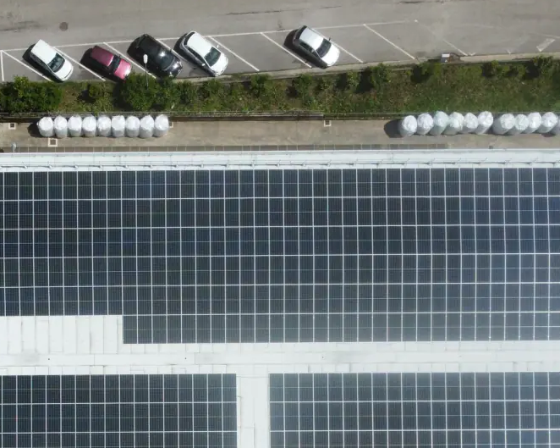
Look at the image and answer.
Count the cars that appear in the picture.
5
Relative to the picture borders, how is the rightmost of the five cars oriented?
at an angle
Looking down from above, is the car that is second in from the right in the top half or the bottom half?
top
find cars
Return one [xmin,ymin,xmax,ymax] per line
[25,35,76,86]
[128,31,182,80]
[289,23,340,72]
[84,42,132,86]
[177,30,228,80]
